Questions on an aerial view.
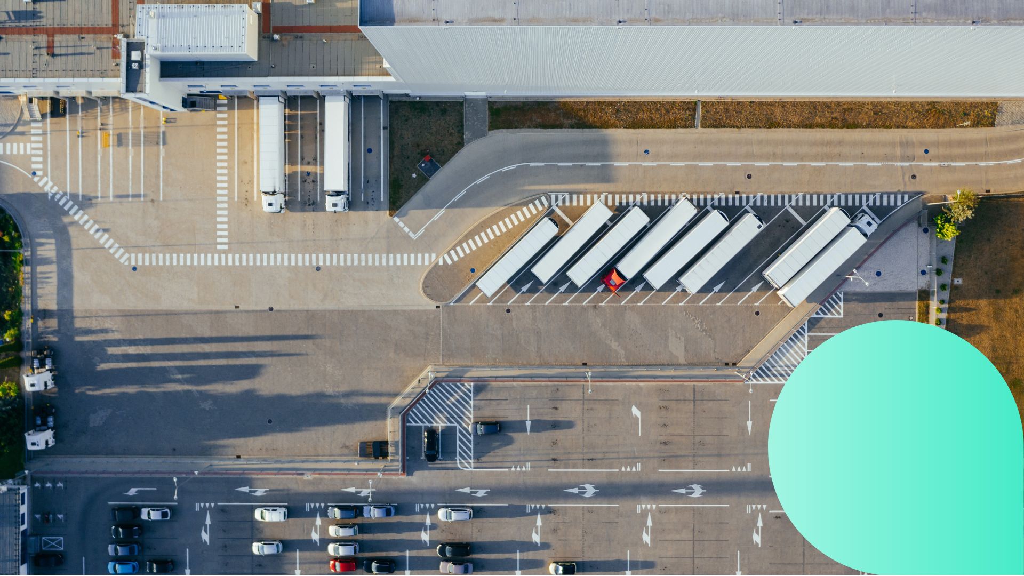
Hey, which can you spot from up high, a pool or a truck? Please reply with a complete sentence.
The one in the frame is a truck.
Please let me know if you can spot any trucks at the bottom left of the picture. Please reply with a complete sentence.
Yes, you'll find a truck at the bottom left of the picture.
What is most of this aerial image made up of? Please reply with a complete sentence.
Most of the picture is covered by paved ground.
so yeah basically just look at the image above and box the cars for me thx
[549,560,576,576]
[330,557,358,573]
[423,428,439,462]
[471,420,501,435]
[112,523,144,539]
[329,522,359,538]
[142,505,173,521]
[328,540,360,556]
[328,504,360,520]
[437,541,471,558]
[440,559,474,575]
[35,551,67,567]
[111,505,142,521]
[438,506,473,522]
[363,504,396,519]
[256,506,289,522]
[109,541,143,557]
[253,539,285,555]
[148,557,176,574]
[364,557,396,573]
[109,558,142,575]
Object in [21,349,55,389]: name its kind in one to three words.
truck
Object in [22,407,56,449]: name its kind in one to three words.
truck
